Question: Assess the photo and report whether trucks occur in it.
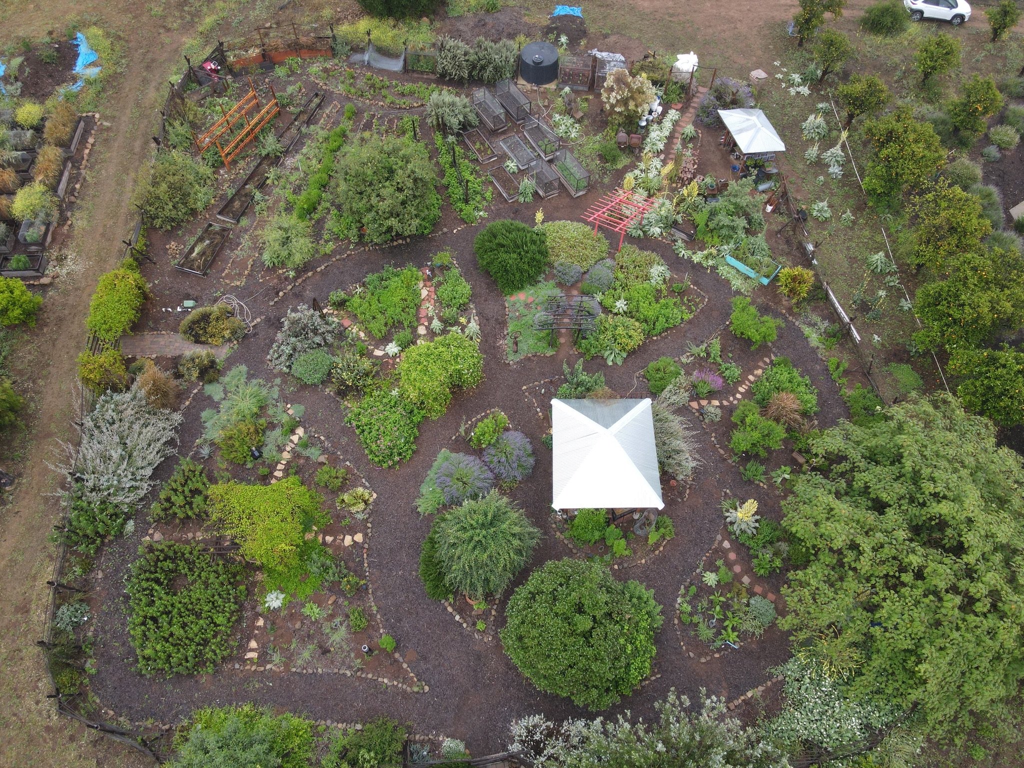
No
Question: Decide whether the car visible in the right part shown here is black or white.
white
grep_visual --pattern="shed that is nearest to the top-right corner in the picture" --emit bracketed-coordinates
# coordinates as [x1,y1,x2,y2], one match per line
[714,108,788,180]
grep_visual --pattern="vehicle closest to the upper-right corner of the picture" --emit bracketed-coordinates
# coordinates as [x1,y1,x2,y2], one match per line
[908,0,978,28]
